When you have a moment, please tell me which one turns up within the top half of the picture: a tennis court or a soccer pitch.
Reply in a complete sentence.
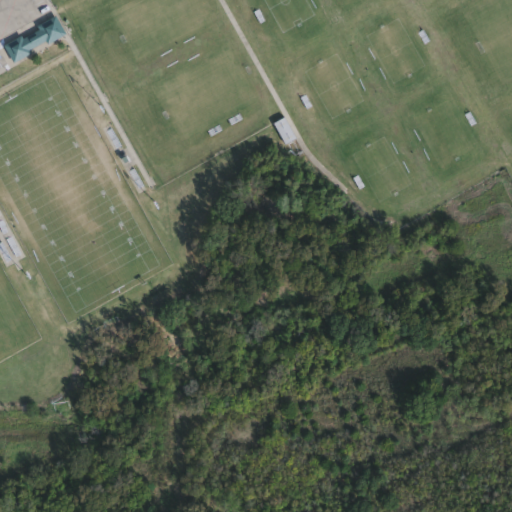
There is a soccer pitch within the top half of the picture.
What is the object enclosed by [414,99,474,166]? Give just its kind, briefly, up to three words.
soccer field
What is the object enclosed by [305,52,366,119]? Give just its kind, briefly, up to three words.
soccer field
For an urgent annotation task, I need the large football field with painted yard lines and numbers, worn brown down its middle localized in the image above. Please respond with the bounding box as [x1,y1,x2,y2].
[0,71,164,316]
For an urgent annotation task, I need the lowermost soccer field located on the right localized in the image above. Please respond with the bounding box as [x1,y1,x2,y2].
[353,136,412,202]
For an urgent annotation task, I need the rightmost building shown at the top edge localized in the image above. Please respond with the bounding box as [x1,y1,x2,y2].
[4,17,64,63]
